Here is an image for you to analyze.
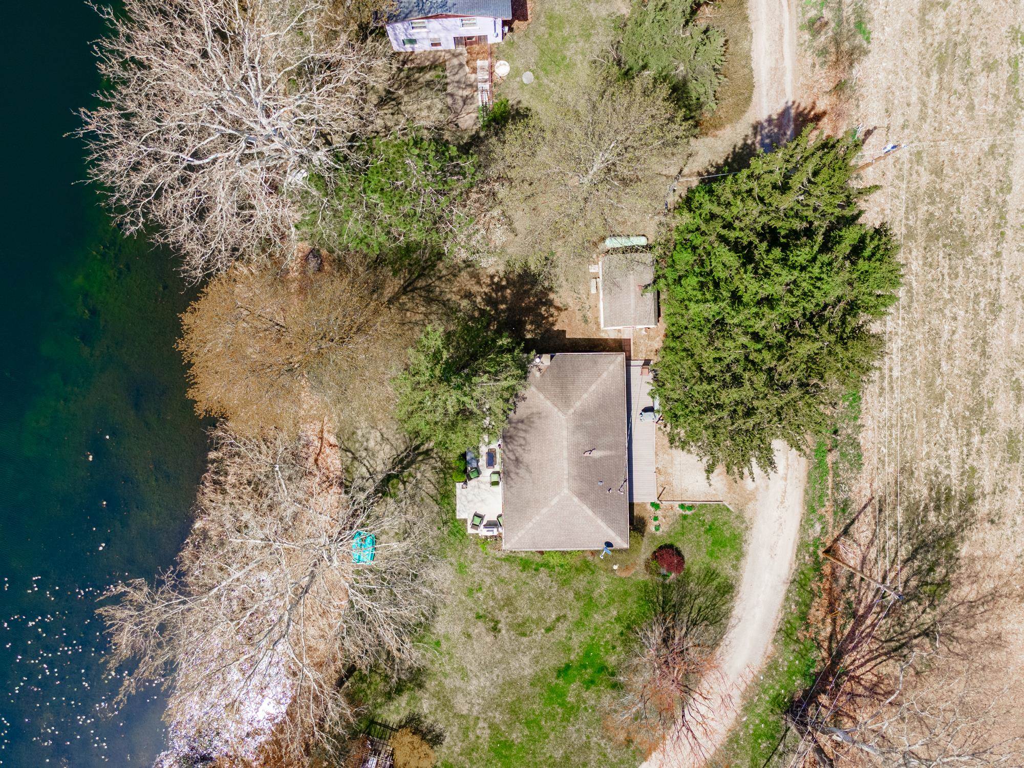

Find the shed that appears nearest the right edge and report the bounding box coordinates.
[599,252,657,326]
